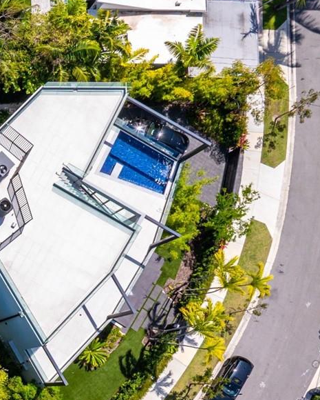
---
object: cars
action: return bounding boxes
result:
[129,113,194,164]
[200,350,254,400]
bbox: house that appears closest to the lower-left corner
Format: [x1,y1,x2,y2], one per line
[0,86,212,386]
